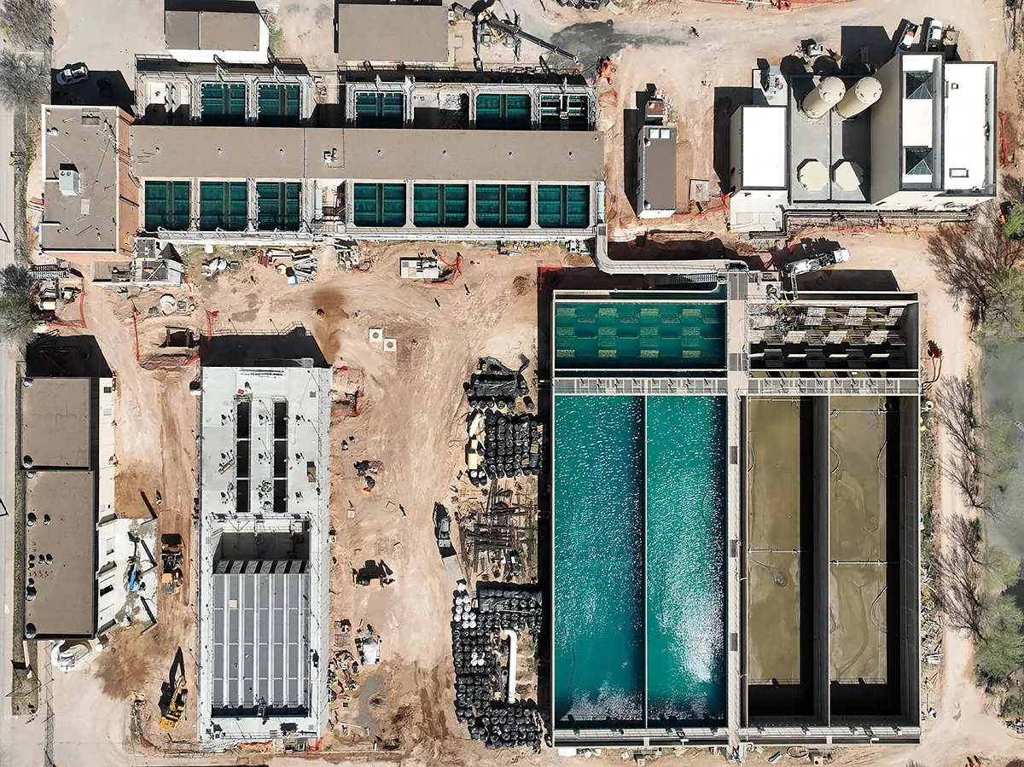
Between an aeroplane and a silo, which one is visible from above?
silo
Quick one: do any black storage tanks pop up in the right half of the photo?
No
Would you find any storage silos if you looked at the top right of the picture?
Yes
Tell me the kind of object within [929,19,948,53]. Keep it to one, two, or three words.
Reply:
vehicle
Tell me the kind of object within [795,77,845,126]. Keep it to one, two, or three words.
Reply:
silo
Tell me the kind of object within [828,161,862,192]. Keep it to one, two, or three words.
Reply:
storage tank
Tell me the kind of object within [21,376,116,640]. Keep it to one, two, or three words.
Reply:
building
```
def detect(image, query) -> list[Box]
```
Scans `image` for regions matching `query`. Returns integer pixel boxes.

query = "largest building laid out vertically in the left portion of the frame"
[189,359,331,743]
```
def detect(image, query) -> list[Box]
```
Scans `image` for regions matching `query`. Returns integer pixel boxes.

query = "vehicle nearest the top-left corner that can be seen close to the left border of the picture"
[51,60,89,83]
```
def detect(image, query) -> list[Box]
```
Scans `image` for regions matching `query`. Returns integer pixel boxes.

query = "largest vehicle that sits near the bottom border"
[154,684,184,732]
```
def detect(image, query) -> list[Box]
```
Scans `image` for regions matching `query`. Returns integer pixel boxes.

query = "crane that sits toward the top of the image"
[476,0,576,66]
